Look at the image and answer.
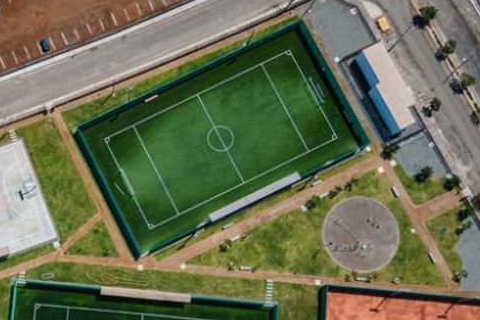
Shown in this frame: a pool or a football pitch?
football pitch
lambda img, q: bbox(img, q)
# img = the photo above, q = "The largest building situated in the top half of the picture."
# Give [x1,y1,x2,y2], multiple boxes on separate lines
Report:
[351,40,417,138]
